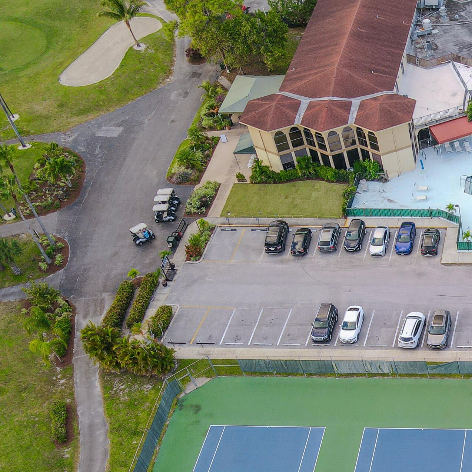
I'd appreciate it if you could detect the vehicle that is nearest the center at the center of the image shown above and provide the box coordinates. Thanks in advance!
[264,220,291,251]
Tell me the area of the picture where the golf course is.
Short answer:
top left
